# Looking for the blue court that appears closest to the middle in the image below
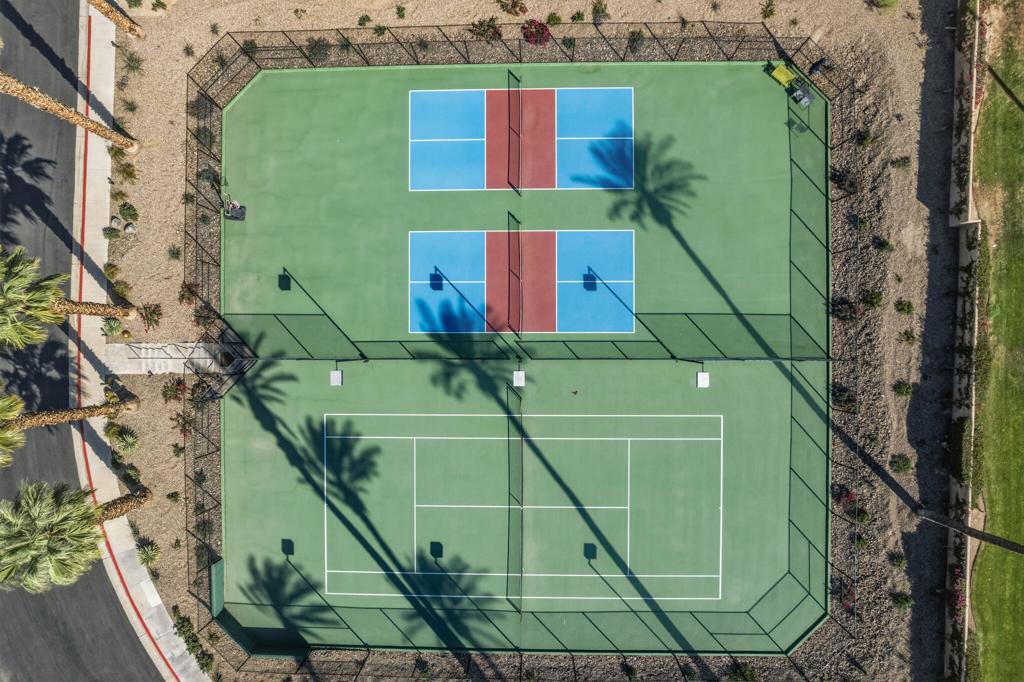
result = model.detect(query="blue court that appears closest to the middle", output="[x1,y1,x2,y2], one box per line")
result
[408,230,635,333]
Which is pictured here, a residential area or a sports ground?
sports ground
